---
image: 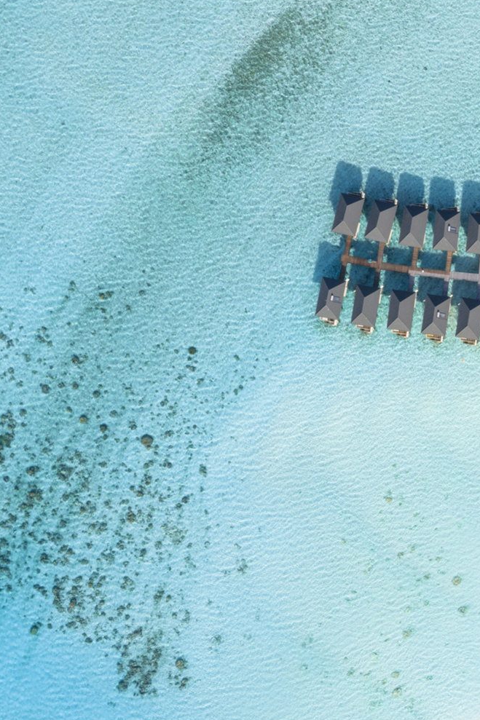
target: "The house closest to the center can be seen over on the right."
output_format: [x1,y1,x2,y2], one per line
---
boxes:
[316,276,351,326]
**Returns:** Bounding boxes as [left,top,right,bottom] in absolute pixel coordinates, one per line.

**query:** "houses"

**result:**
[388,289,420,338]
[421,293,454,341]
[316,276,351,326]
[332,190,370,239]
[399,200,432,249]
[351,284,384,333]
[466,209,480,254]
[433,204,463,253]
[365,196,403,245]
[456,298,480,346]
